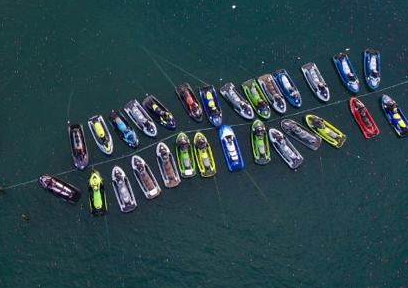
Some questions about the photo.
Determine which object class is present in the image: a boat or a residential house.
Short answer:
boat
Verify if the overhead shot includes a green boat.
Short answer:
Yes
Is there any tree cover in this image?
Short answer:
No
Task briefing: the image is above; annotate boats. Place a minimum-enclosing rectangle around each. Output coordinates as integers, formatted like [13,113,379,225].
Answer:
[378,90,408,139]
[68,123,87,170]
[193,130,218,180]
[132,152,163,202]
[197,82,221,126]
[270,67,302,109]
[350,97,381,141]
[87,114,113,158]
[221,124,247,176]
[113,159,139,216]
[266,119,305,172]
[297,61,329,103]
[250,119,271,170]
[329,51,359,94]
[240,77,271,119]
[279,116,323,154]
[157,139,182,191]
[255,72,286,115]
[122,97,156,140]
[217,79,253,119]
[141,92,175,131]
[303,108,348,152]
[175,130,196,181]
[38,176,83,206]
[173,81,203,129]
[108,110,137,147]
[88,167,105,218]
[364,48,382,92]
